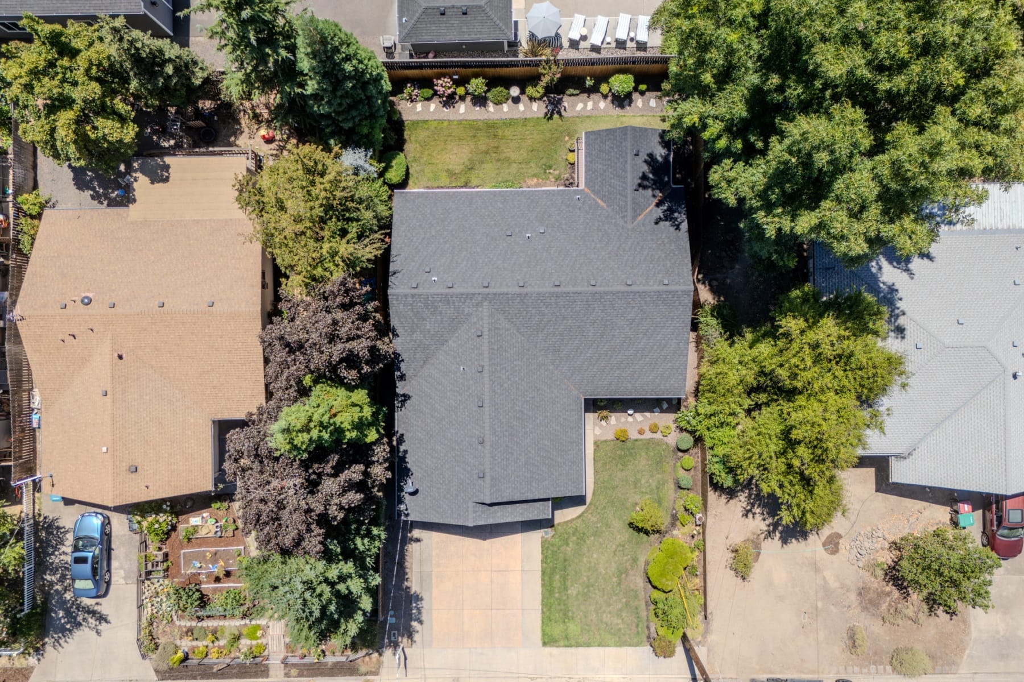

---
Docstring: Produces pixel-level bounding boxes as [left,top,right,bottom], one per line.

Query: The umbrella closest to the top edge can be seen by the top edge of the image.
[526,4,563,42]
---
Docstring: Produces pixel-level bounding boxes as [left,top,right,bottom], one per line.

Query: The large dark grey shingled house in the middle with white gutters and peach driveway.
[386,126,695,527]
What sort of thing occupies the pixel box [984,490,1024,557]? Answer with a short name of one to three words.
car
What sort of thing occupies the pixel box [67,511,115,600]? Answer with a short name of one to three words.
car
